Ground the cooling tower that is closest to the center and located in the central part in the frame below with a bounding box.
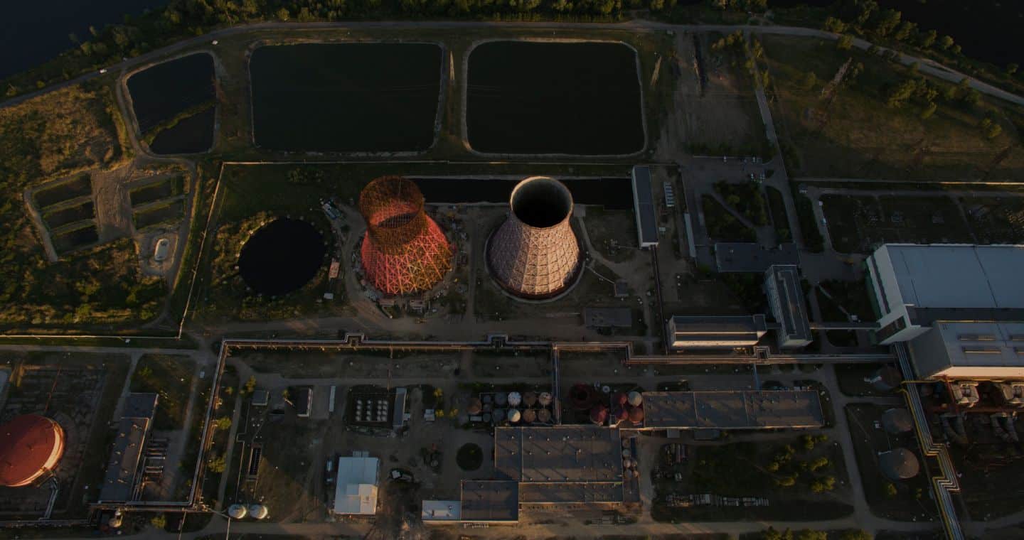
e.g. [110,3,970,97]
[484,175,589,301]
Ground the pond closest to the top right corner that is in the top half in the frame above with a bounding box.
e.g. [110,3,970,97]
[468,43,644,154]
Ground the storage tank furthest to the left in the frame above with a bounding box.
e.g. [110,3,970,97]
[0,417,71,491]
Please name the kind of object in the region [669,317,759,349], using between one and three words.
building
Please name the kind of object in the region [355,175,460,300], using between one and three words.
cooling tower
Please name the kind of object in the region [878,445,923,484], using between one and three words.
storage tank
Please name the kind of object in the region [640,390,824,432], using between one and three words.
building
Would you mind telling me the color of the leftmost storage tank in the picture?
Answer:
red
